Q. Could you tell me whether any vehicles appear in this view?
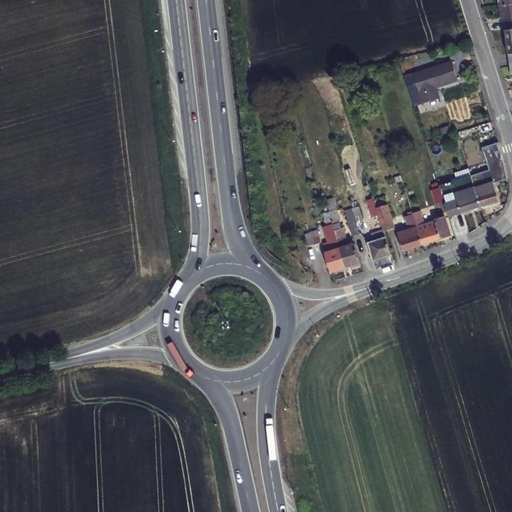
Yes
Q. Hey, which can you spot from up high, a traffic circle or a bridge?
traffic circle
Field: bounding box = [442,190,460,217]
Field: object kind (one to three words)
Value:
house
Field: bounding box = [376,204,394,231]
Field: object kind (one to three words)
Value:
barn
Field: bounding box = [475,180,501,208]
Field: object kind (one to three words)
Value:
house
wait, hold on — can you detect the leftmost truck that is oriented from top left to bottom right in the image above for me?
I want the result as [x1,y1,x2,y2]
[166,341,194,378]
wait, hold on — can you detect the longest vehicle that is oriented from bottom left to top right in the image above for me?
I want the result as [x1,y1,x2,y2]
[169,279,184,298]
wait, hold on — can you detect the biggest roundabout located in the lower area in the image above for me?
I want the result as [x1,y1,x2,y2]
[159,253,298,392]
